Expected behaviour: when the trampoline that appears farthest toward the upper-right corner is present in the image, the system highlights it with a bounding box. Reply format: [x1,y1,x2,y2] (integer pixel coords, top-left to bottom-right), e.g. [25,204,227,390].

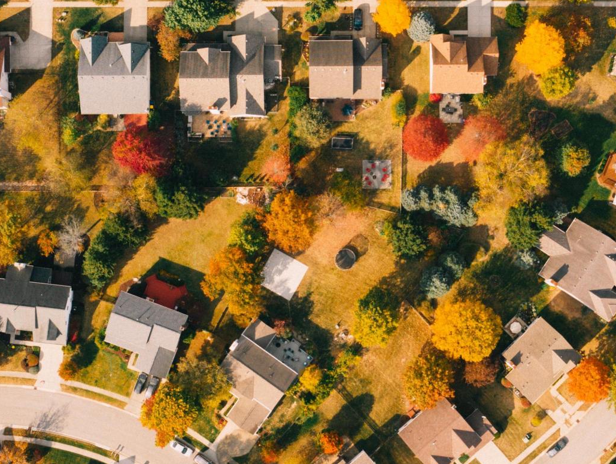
[332,136,353,148]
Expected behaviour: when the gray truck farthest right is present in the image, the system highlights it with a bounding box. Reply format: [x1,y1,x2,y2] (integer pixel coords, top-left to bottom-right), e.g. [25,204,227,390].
[545,435,569,458]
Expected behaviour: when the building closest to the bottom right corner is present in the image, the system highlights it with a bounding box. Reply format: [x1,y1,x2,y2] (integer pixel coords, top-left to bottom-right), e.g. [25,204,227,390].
[502,317,583,407]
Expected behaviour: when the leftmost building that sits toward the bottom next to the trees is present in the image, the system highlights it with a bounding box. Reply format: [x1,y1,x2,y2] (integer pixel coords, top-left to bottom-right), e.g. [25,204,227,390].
[0,263,74,346]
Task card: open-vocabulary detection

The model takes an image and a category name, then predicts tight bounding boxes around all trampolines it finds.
[332,136,353,148]
[335,248,356,268]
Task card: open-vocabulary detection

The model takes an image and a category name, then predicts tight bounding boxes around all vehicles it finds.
[545,435,569,458]
[134,373,147,393]
[171,439,192,456]
[353,8,364,30]
[145,377,158,395]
